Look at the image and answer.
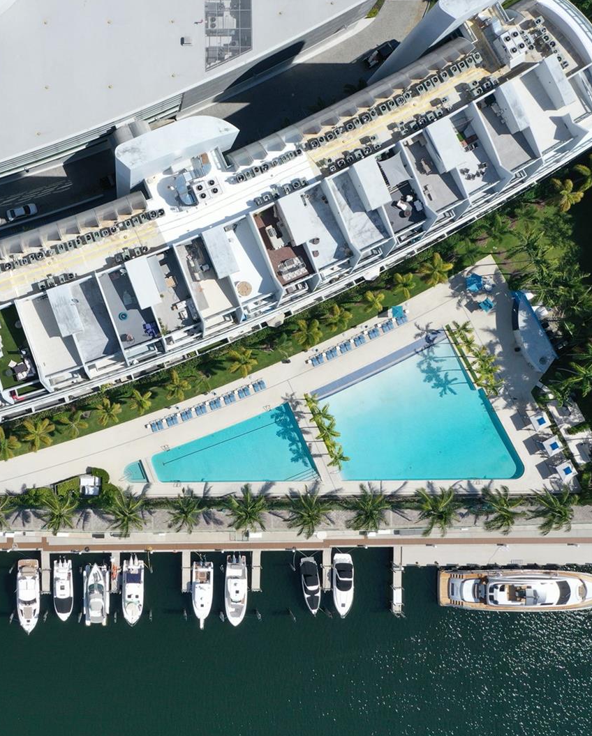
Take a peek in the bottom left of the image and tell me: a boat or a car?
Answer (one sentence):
Looking in the bottom left of the image, you will find a boat.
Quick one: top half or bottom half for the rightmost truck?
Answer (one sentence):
The rightmost truck sits in the top half of the picture.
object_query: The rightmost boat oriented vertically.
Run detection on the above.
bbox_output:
[333,554,354,619]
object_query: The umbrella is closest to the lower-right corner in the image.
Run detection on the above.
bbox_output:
[555,460,576,482]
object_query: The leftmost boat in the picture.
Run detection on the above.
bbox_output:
[16,559,40,636]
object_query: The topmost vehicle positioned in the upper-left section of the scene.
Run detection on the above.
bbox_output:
[90,171,117,196]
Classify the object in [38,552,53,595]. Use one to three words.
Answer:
pier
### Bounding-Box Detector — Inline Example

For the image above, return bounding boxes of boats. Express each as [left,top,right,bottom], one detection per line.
[333,554,354,619]
[225,553,247,627]
[53,558,74,622]
[86,563,106,624]
[16,559,40,636]
[122,557,144,626]
[300,557,321,617]
[192,554,214,629]
[434,568,592,612]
